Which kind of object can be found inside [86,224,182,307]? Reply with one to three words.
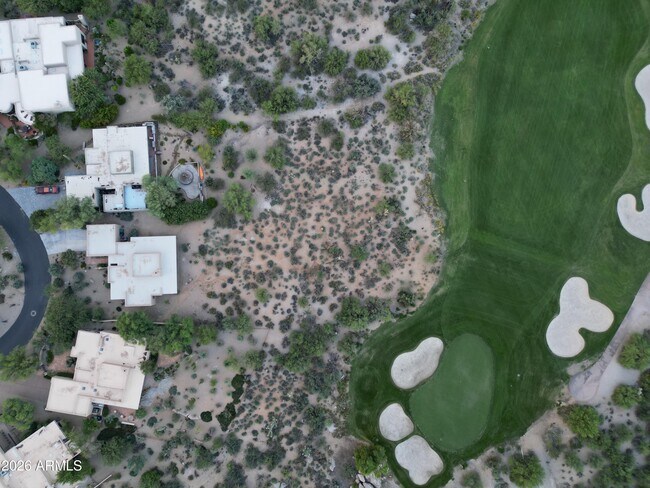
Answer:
house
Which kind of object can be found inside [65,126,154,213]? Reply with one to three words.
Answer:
house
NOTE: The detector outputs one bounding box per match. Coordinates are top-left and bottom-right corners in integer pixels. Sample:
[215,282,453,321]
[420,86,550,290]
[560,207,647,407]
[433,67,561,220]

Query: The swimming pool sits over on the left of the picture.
[128,186,146,209]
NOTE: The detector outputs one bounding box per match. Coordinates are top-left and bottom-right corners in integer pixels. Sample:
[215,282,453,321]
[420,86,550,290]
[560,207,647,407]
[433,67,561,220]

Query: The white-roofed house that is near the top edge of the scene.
[0,16,92,128]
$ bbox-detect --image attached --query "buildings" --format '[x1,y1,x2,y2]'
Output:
[86,224,182,307]
[0,16,92,128]
[65,126,154,213]
[46,328,155,417]
[0,416,76,488]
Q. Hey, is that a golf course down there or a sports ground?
golf course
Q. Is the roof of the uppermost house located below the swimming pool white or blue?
white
